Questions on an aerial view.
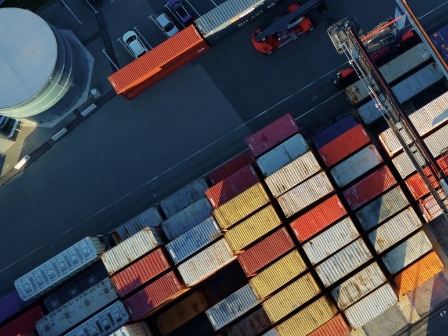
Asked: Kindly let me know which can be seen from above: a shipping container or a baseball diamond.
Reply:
shipping container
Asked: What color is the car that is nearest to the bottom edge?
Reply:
blue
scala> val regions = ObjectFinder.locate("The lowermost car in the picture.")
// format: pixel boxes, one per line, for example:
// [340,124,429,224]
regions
[123,30,149,59]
